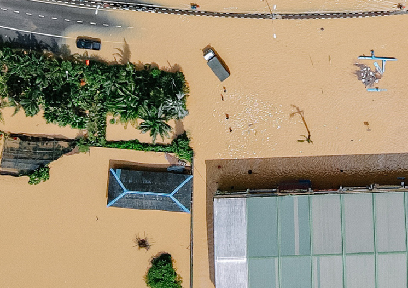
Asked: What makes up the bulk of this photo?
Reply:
water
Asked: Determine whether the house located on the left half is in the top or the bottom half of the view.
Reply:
bottom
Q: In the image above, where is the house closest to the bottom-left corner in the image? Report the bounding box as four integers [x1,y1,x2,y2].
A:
[106,167,193,213]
